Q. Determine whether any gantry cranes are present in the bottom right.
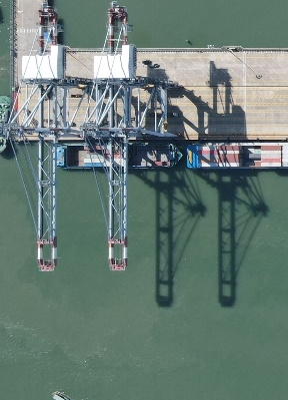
No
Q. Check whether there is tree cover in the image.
No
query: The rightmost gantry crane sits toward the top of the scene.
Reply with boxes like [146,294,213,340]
[75,1,180,273]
